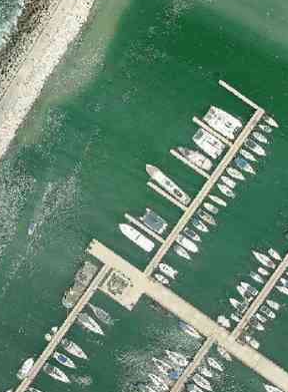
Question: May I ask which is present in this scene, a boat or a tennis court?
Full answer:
The image shows a boat.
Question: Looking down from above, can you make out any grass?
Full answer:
No, the scene doesn't show any grass.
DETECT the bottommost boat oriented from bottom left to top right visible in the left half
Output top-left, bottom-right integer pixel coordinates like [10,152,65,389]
[16,360,31,380]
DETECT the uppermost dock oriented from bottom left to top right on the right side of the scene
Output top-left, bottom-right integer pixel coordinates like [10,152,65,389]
[142,106,266,276]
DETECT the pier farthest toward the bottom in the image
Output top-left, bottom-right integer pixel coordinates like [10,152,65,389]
[170,339,217,392]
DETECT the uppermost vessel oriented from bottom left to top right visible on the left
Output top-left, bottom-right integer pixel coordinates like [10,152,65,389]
[63,261,96,308]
